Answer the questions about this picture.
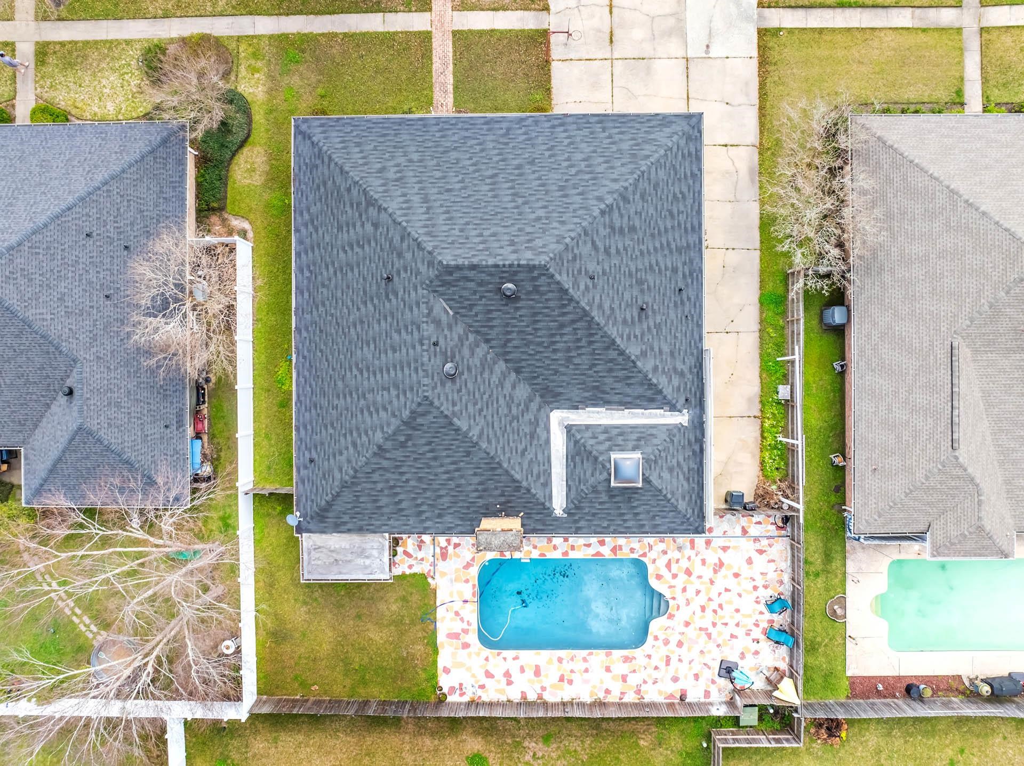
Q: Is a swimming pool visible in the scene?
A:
Yes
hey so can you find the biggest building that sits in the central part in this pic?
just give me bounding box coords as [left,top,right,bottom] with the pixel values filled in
[286,112,713,583]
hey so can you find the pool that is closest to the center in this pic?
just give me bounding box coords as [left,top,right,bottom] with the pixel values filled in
[473,553,674,655]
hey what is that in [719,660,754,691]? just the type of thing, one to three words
umbrella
